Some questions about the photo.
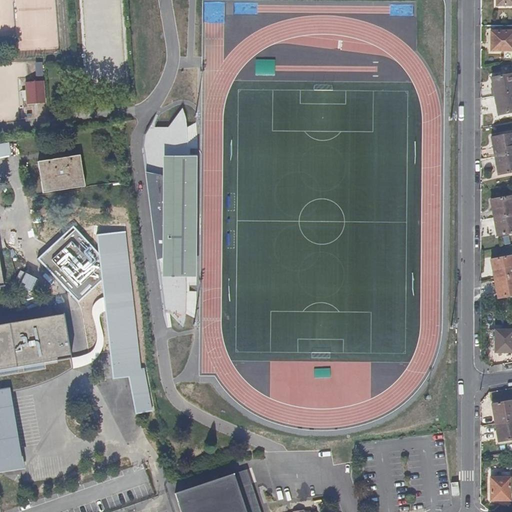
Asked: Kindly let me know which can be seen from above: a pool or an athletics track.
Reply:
athletics track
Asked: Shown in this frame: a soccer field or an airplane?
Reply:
soccer field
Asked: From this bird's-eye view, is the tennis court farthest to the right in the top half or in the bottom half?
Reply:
top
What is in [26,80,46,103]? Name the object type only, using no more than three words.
shed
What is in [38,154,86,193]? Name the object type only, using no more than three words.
house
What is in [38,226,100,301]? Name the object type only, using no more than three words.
building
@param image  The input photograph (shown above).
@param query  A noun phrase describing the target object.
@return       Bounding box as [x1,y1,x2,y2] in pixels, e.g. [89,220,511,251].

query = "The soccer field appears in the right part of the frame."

[222,80,421,362]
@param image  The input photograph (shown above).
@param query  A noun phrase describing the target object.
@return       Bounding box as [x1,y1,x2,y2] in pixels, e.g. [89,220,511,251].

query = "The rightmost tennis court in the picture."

[16,0,58,50]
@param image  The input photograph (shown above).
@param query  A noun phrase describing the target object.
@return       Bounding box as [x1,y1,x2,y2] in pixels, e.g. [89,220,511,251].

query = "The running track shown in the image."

[201,12,442,429]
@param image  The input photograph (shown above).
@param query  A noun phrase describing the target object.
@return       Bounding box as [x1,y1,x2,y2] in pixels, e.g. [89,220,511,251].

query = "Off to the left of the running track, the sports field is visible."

[80,0,126,70]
